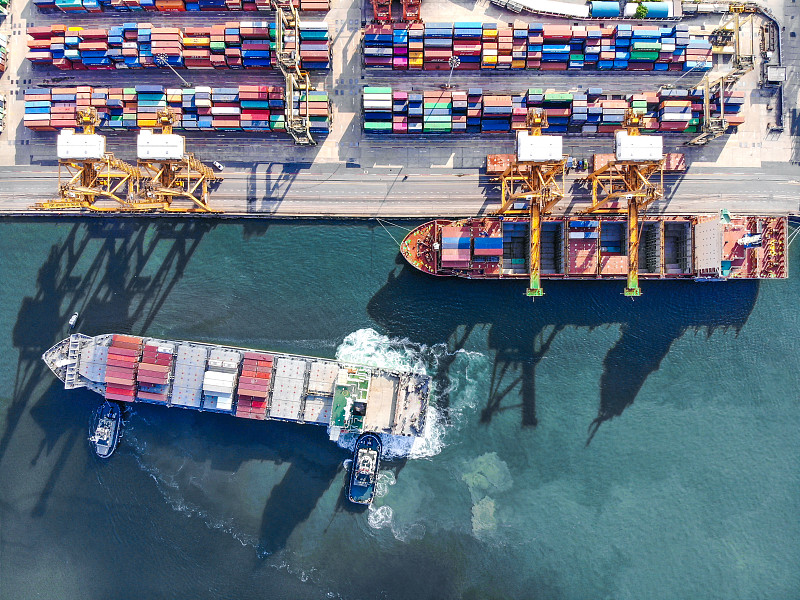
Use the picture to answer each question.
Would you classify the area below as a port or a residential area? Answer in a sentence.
This image shows a port.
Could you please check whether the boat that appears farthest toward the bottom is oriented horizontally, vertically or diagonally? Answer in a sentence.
The boat that appears farthest toward the bottom is oriented vertically.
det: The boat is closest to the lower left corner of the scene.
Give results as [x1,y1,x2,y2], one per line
[89,400,123,461]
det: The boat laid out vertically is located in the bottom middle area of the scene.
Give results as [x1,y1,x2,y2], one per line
[347,433,383,505]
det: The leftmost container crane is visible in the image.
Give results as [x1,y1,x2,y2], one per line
[24,110,165,212]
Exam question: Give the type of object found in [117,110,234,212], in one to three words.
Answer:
container crane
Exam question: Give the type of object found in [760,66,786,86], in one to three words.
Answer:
building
